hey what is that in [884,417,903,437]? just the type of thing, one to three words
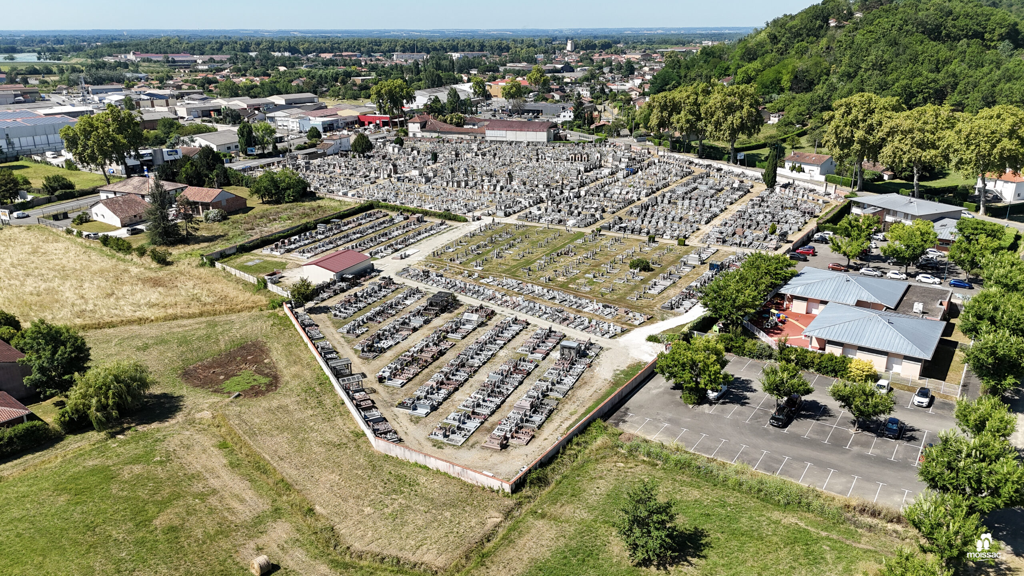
car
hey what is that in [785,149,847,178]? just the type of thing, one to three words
house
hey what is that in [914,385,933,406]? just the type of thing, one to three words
car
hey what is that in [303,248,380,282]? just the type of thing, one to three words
shed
